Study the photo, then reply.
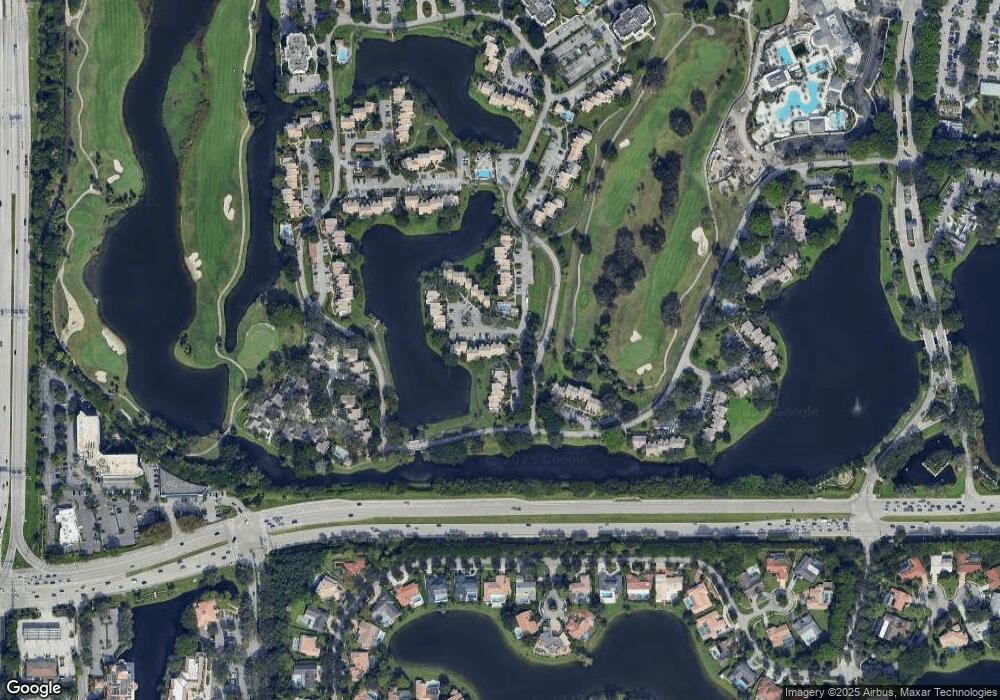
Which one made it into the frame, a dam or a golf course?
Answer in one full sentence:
The one in the frame is a golf course.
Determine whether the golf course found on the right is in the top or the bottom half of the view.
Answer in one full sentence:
The golf course found on the right is in the top half of the image.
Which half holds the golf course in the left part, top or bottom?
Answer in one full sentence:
The golf course in the left part is in the top half of the image.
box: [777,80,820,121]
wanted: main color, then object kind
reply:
blue swimming pool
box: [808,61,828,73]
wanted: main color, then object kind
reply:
blue swimming pool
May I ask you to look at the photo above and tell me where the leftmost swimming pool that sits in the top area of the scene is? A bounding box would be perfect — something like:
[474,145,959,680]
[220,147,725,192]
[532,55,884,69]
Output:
[280,222,293,244]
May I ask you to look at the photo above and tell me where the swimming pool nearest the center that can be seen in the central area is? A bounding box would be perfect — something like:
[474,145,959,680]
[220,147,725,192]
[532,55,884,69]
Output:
[498,301,518,316]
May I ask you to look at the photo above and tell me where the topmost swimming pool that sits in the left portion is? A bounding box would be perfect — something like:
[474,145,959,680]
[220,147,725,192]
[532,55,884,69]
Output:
[336,40,350,64]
